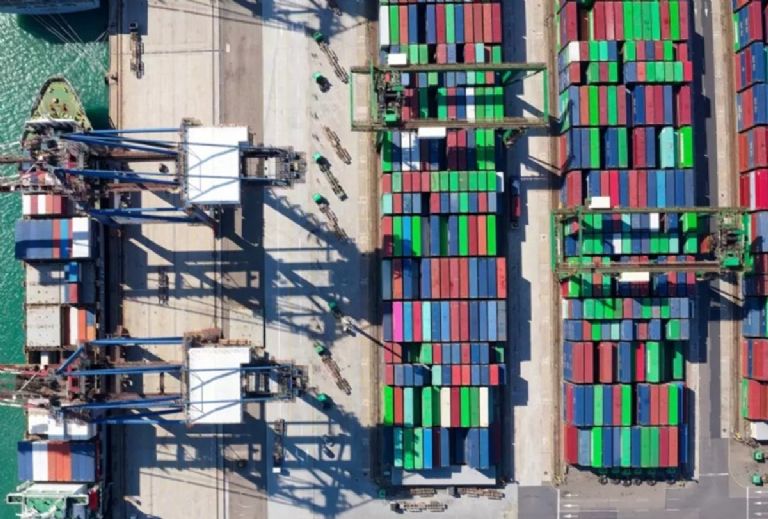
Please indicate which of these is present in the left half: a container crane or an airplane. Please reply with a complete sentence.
Looking in the left half, you will find a container crane.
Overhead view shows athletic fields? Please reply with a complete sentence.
No, I can't see a single athletic field in this photo.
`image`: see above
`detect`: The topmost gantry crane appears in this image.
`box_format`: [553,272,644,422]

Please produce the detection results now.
[351,53,550,142]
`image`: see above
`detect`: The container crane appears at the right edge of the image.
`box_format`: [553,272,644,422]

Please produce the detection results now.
[551,196,751,281]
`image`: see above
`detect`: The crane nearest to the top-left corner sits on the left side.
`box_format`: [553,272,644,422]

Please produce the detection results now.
[0,123,310,242]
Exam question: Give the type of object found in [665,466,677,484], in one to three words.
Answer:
vehicle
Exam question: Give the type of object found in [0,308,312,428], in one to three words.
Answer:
container crane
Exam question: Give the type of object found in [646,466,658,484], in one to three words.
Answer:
vehicle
